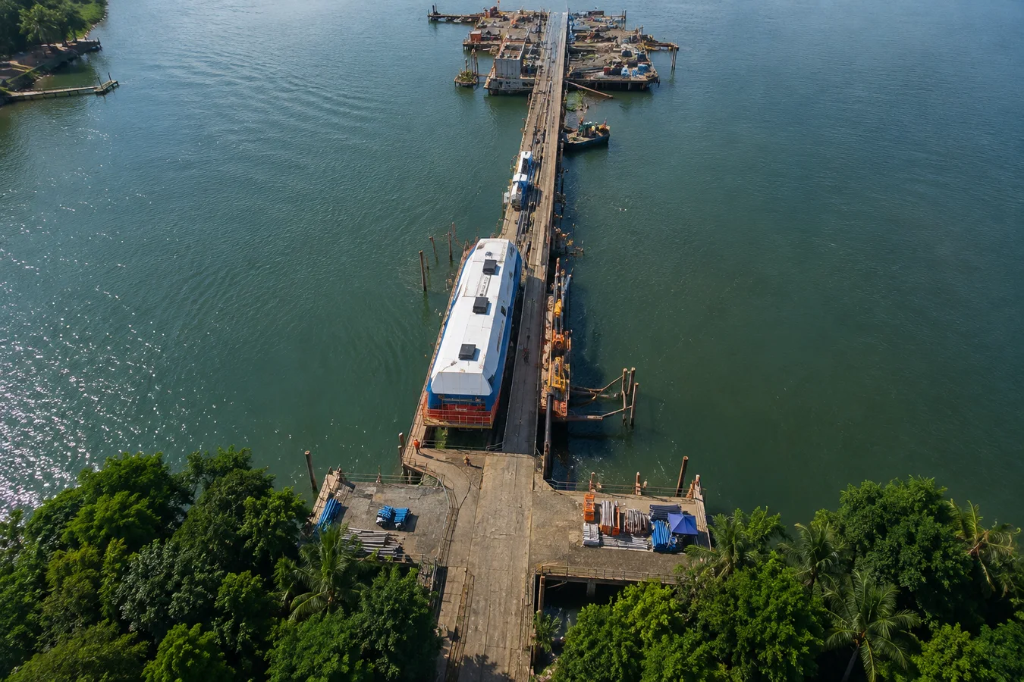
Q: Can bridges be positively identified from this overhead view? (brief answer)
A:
Yes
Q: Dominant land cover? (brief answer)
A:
water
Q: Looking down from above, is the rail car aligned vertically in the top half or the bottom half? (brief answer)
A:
top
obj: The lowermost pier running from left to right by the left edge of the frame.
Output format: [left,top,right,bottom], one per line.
[6,65,119,104]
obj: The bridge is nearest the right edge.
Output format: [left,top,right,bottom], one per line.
[498,12,567,470]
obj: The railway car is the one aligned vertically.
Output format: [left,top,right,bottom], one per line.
[510,150,531,209]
